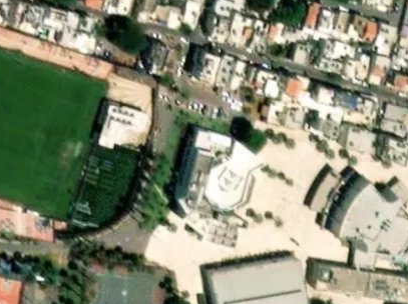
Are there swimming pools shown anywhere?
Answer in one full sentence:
No, this view has no swimming pool in it.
